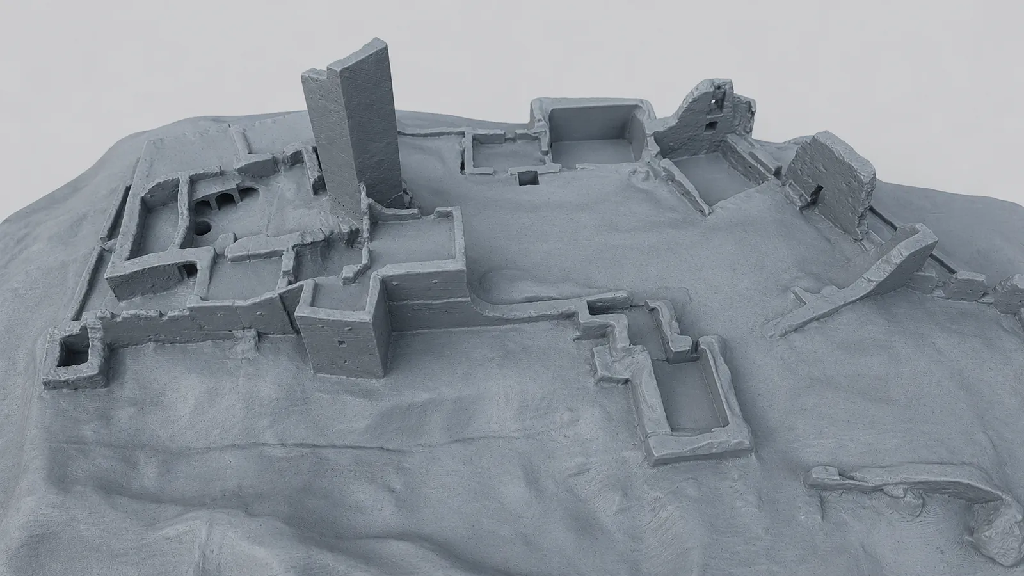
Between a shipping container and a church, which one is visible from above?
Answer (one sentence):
Looking from above, you can make out a church.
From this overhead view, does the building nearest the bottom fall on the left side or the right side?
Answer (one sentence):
You can find the building nearest the bottom on the right side of the picture.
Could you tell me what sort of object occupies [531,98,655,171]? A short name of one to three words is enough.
building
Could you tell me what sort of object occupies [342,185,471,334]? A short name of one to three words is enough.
building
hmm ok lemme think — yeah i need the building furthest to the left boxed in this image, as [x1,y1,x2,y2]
[106,112,337,302]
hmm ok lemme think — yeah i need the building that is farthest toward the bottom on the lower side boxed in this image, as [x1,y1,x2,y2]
[592,337,753,462]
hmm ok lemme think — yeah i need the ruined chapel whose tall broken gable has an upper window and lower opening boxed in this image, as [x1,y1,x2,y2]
[647,78,782,215]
